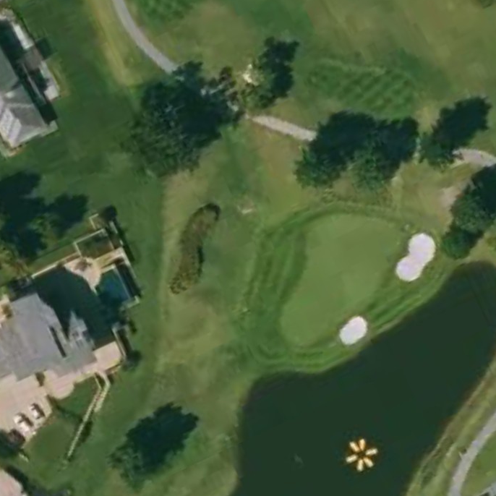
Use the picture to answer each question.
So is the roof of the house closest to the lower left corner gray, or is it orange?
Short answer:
gray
